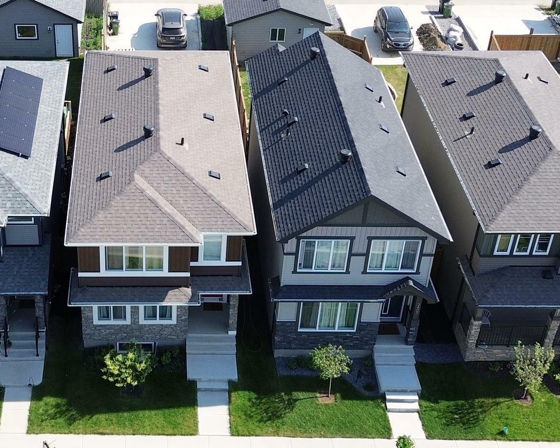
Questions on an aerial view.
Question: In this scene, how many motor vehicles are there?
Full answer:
In total, there are 2 motor vehicles in the scene.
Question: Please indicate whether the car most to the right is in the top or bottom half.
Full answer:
Seen from above, the car most to the right lies in the top half of the view.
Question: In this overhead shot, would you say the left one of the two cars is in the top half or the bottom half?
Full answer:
It is in the top half that the left one of the two cars appears.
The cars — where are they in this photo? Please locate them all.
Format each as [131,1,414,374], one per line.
[155,9,189,46]
[370,2,416,48]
